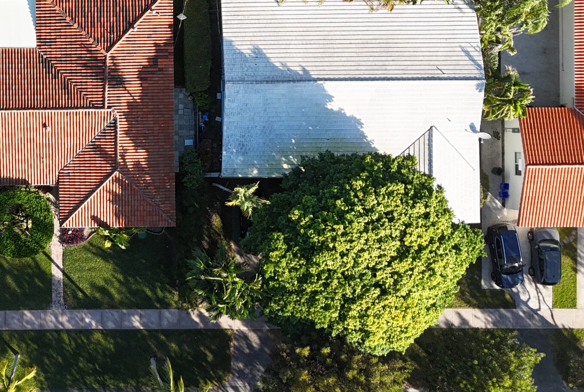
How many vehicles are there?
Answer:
2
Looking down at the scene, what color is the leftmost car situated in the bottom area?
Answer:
black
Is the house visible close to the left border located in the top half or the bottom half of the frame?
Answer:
top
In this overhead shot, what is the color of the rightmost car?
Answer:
black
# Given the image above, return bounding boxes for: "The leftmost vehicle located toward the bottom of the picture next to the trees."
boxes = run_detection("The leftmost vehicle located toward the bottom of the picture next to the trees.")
[492,223,530,286]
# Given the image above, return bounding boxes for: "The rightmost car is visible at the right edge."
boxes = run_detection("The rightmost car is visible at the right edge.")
[531,228,566,284]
